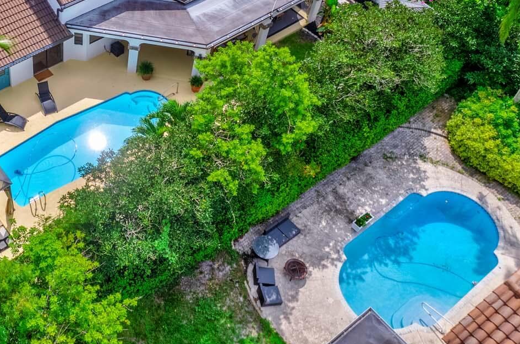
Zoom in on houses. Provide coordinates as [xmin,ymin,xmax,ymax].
[0,0,321,90]
[434,264,520,344]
